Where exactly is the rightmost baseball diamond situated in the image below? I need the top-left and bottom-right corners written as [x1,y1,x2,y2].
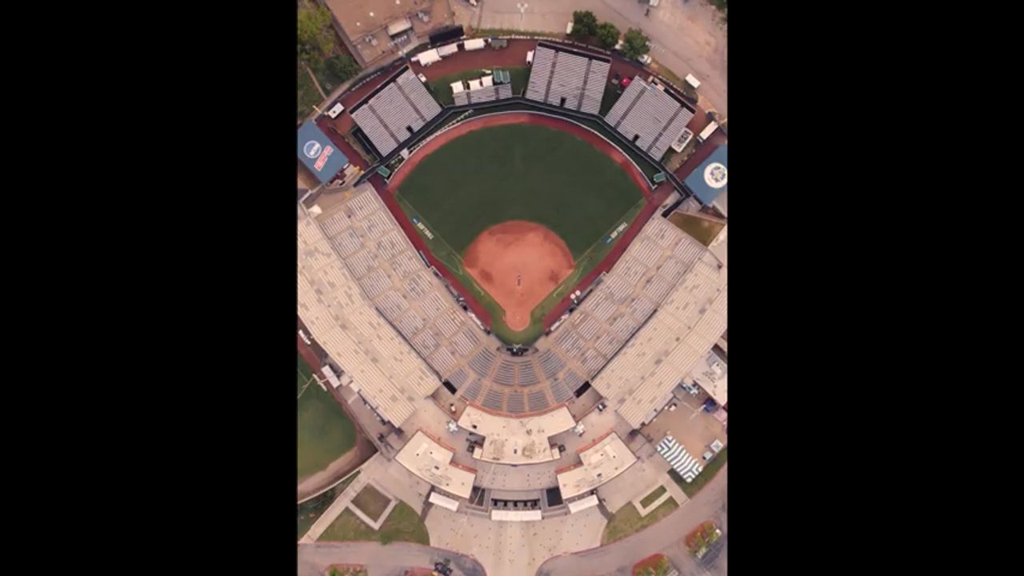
[371,113,668,346]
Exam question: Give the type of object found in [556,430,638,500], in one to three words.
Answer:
building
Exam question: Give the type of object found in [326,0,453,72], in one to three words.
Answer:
building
